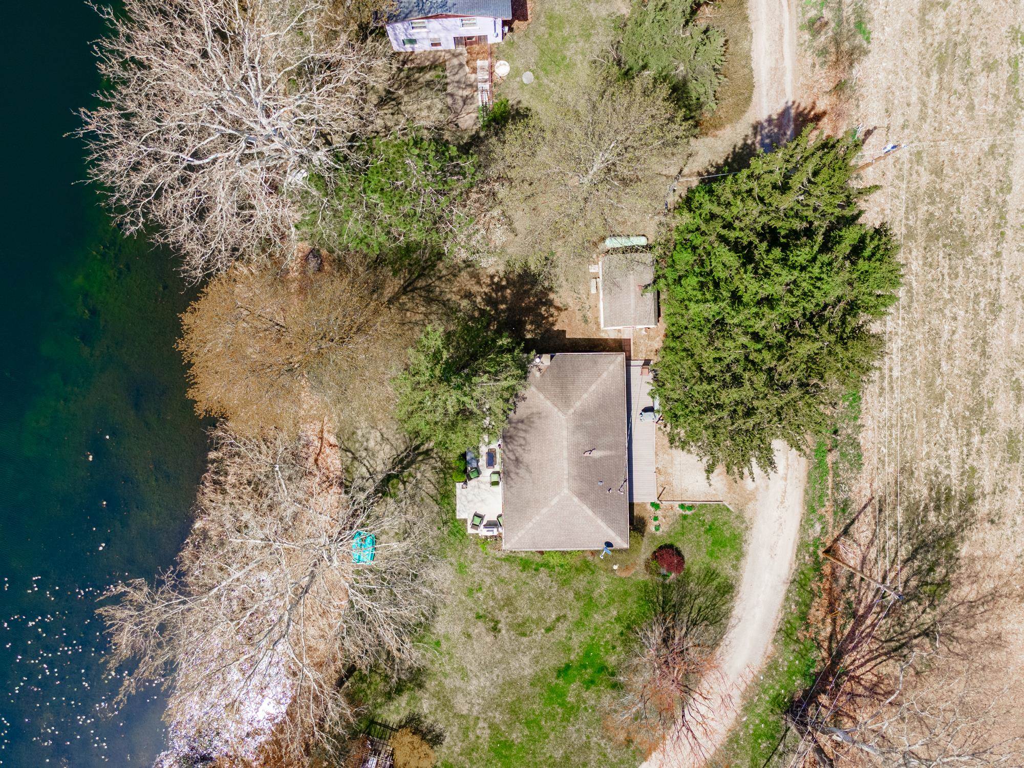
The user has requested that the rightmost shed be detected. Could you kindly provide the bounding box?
[599,252,657,326]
